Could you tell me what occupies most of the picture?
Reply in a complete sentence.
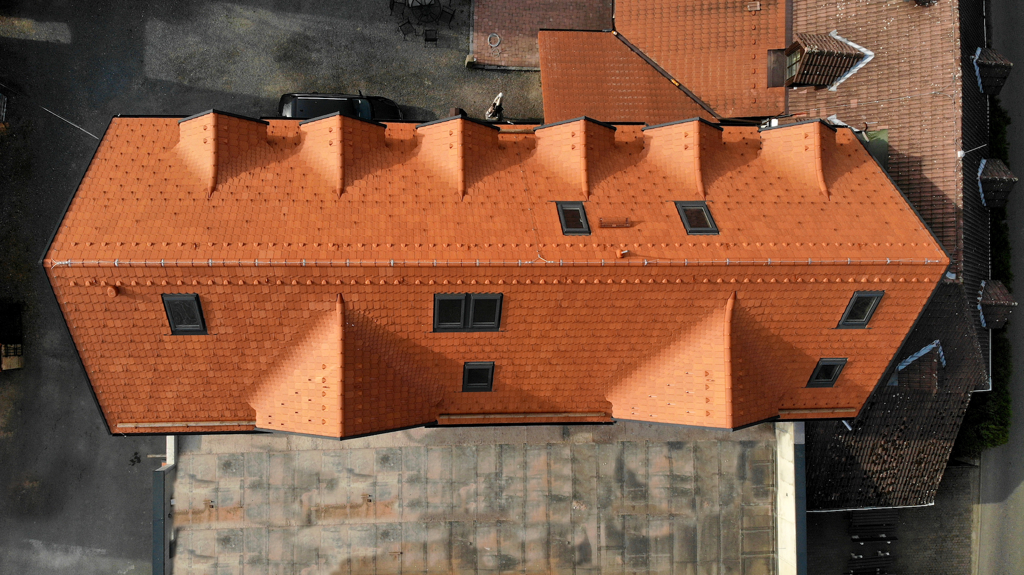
The bulk of the photo consists of buildings.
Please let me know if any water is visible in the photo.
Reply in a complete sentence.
No, water can't be seen anywhere here.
